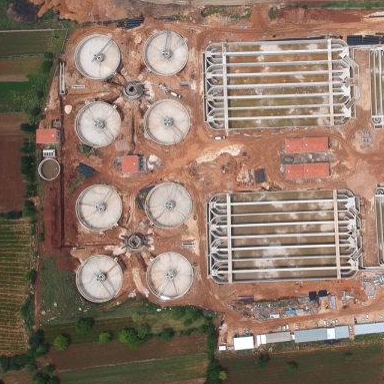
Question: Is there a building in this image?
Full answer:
Yes, the frame does contain a building.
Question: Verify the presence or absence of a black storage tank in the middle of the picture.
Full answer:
No, no black storage tank is visible in the middle of the picture.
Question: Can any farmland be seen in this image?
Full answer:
Yes, there is farmland in the image.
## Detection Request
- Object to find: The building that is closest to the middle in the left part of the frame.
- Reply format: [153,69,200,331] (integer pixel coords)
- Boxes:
[121,156,147,172]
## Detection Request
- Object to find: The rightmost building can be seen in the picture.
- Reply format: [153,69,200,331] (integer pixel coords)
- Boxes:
[353,321,384,335]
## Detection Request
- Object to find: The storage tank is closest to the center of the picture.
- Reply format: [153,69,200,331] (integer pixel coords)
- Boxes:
[145,179,192,228]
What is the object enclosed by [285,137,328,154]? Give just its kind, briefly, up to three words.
building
